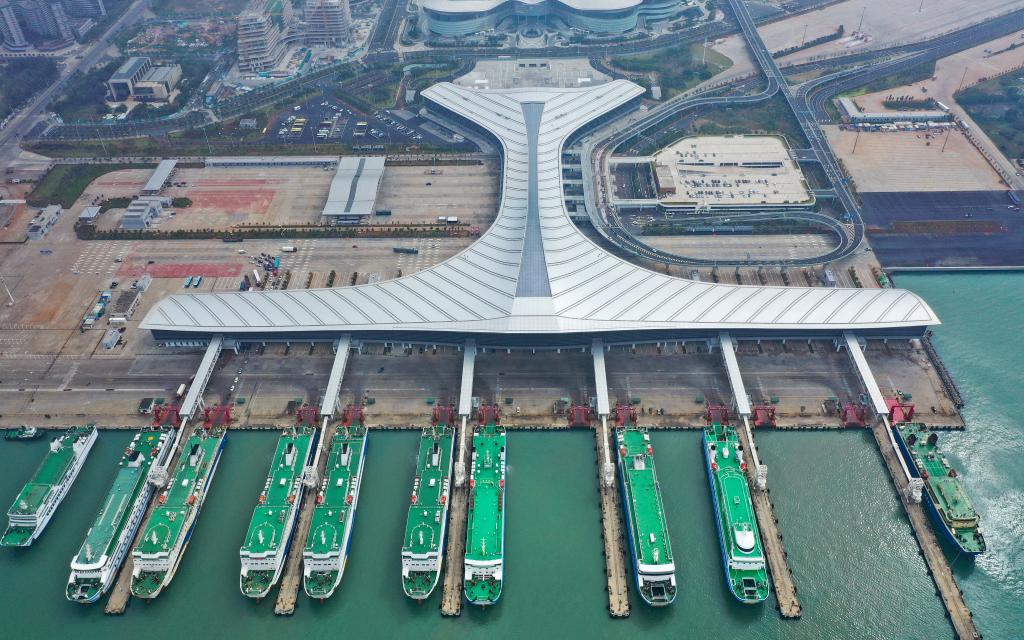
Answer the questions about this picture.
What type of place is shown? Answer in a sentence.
The area seen from above is a port.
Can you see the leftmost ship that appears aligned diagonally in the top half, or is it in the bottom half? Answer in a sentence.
It is in the bottom half that the leftmost ship that appears aligned diagonally appears.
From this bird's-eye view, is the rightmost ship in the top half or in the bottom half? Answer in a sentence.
The rightmost ship sits in the bottom half of the picture.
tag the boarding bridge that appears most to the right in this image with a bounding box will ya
[843,335,925,505]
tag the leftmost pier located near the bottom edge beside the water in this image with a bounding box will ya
[106,431,192,615]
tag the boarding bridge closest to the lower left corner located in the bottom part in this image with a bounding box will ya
[145,337,237,491]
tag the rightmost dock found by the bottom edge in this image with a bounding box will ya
[866,428,984,640]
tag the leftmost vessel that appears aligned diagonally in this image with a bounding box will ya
[0,424,100,548]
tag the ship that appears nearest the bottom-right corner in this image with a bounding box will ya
[895,421,982,559]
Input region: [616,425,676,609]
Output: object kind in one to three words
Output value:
ship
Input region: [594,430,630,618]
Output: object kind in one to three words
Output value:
pier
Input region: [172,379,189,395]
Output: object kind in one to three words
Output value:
vehicle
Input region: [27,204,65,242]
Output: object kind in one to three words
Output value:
building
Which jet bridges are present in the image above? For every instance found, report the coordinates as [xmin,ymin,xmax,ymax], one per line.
[591,342,619,493]
[453,344,489,491]
[304,339,364,491]
[720,338,769,495]
[145,337,237,491]
[843,335,925,505]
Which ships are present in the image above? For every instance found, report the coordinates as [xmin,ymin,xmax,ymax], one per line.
[400,426,455,603]
[303,426,366,602]
[616,425,676,609]
[241,426,317,602]
[702,425,770,606]
[895,421,982,559]
[464,425,507,608]
[0,424,100,548]
[68,426,176,604]
[130,428,227,602]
